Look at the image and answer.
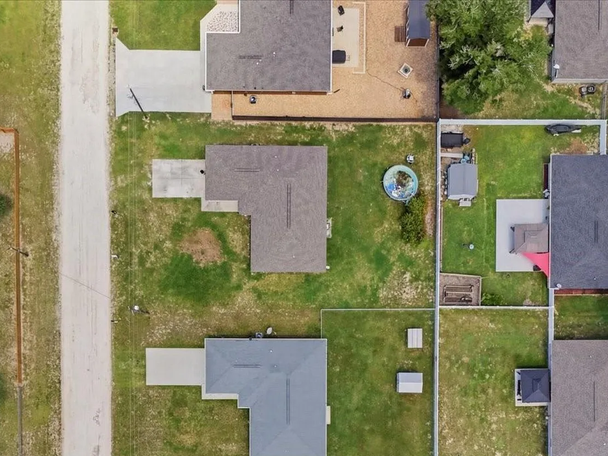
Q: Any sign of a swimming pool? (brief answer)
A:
Yes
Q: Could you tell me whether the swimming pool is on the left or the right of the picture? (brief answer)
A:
right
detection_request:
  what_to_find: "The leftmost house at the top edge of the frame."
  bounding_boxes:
[206,0,331,95]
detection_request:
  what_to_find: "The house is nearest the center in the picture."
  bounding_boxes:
[206,144,327,273]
